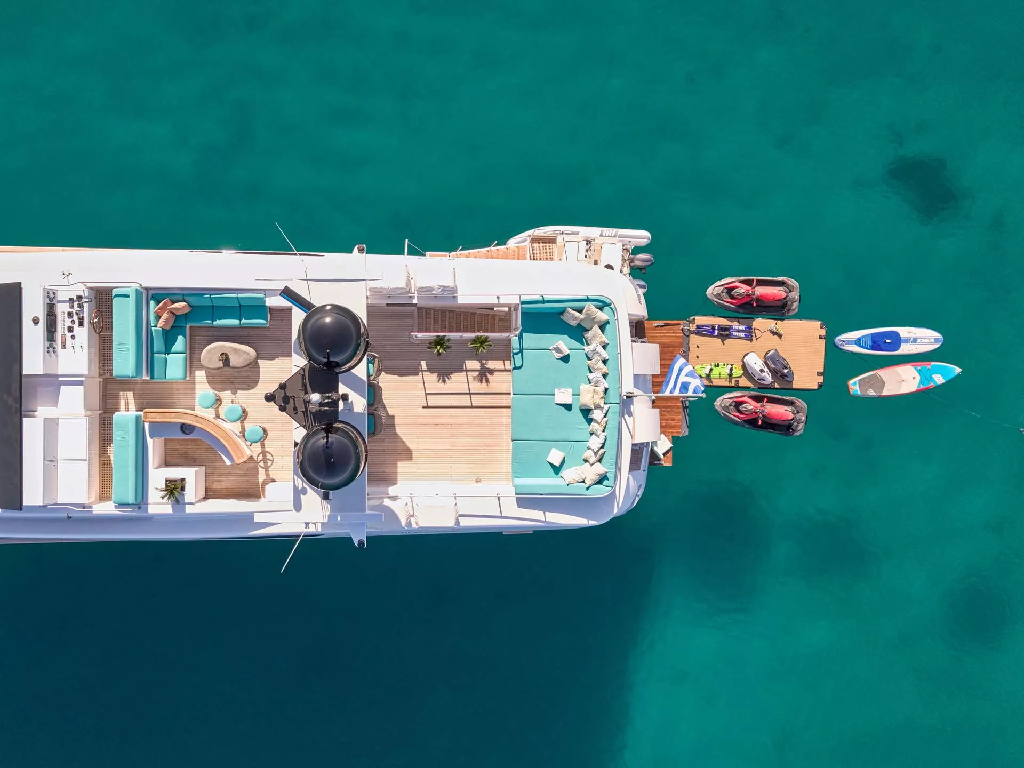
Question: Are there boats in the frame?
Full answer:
Yes, a boat appears in the view.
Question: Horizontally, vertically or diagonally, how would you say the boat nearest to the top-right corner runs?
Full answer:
What the image shows is the boat nearest to the top-right corner lying horizontally.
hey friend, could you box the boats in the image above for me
[712,391,811,433]
[0,223,689,574]
[510,225,655,293]
[704,276,802,314]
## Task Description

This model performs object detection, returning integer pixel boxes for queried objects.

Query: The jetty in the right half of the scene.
[680,316,825,389]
